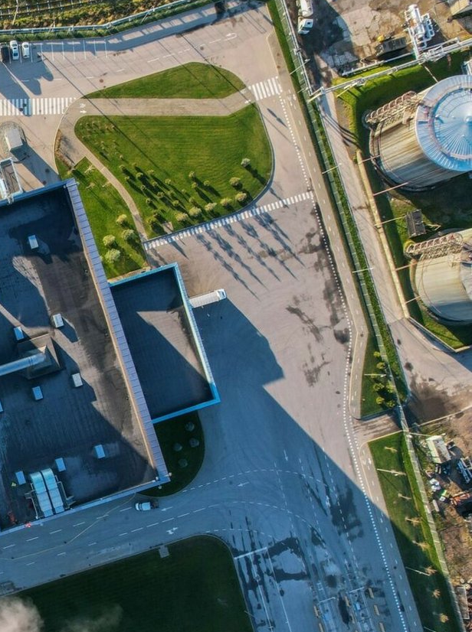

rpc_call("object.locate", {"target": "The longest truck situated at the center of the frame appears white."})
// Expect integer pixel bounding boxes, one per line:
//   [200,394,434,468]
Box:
[188,286,236,309]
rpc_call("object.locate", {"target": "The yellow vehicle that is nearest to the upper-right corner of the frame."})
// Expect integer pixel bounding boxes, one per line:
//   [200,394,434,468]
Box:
[375,29,398,43]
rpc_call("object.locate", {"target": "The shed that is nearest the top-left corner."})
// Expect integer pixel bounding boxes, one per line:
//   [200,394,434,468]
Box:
[2,128,24,153]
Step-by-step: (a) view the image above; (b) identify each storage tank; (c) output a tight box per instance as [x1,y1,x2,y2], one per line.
[362,74,472,195]
[401,227,472,332]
